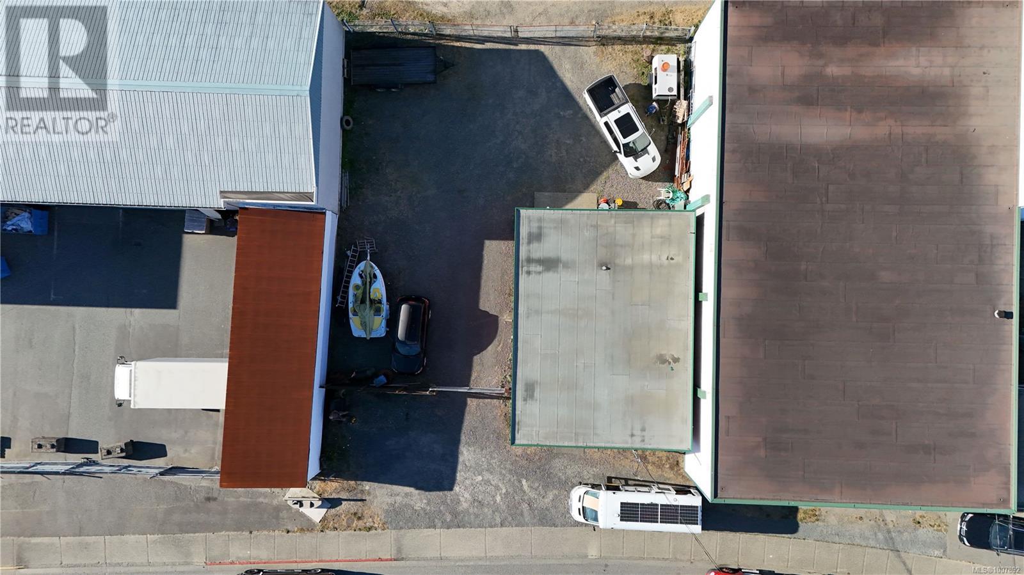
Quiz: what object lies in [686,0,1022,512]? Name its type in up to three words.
warehouse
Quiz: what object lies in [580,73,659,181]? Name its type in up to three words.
truck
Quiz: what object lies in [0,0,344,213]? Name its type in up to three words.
building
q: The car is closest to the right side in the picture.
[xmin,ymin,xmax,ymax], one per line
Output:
[955,510,1024,556]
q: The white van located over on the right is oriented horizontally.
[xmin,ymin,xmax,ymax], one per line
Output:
[570,470,702,531]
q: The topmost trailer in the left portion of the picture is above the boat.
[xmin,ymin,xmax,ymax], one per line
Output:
[349,44,460,92]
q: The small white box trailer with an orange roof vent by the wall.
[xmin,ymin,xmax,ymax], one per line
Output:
[645,55,678,118]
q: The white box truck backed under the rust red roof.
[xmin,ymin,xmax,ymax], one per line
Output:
[117,354,229,410]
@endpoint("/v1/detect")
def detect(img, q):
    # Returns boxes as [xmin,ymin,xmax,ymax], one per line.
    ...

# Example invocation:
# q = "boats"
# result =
[346,259,388,342]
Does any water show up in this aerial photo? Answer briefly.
No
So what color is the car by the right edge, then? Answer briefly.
black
